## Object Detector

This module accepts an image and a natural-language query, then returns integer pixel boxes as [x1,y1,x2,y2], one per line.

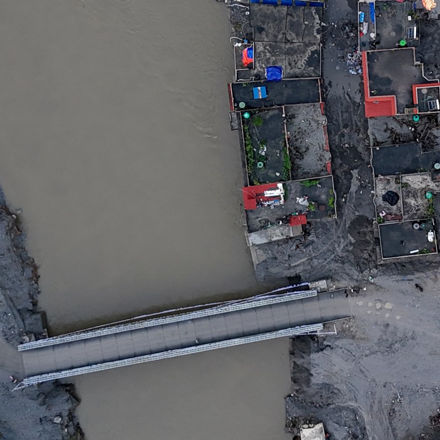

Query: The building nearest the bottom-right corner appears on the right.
[373,219,440,264]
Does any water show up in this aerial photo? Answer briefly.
Yes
